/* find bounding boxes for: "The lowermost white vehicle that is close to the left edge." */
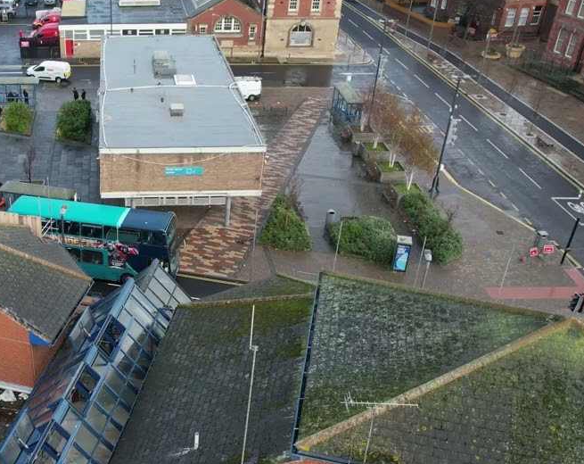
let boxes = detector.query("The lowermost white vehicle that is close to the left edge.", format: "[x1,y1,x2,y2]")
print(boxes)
[27,61,72,84]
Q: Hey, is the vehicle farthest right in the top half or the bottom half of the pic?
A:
top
